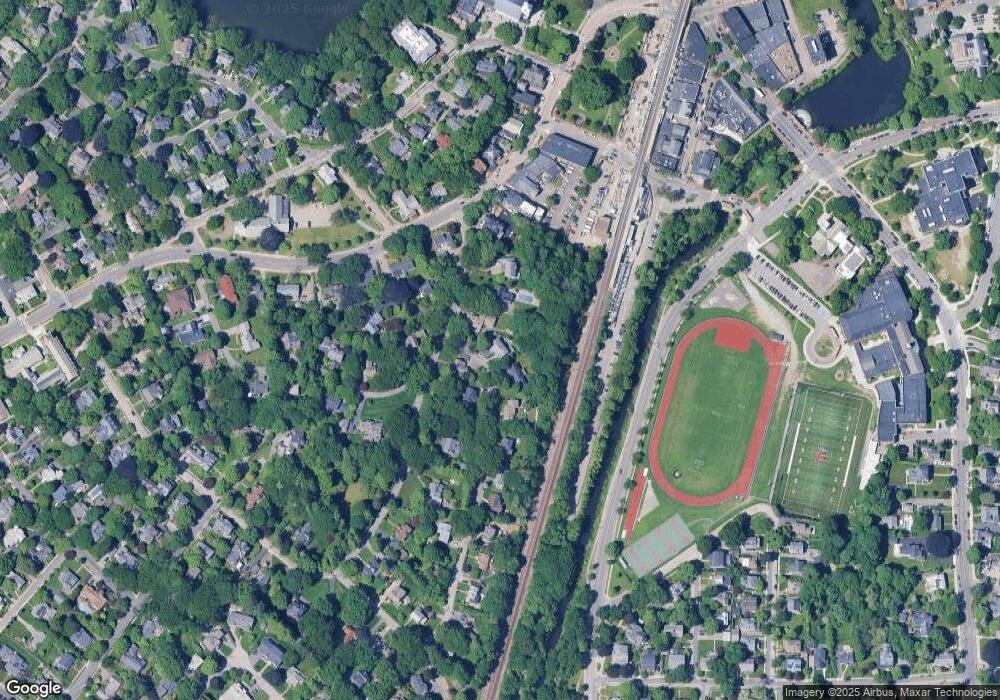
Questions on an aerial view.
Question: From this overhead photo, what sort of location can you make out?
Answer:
residential area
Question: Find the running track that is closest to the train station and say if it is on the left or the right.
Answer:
right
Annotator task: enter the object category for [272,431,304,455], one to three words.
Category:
house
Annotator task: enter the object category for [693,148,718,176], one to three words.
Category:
building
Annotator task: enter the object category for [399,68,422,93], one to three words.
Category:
house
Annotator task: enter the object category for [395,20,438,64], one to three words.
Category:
building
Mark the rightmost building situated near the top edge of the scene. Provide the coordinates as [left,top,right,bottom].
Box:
[951,30,989,75]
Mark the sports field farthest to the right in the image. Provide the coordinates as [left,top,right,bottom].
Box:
[771,380,871,519]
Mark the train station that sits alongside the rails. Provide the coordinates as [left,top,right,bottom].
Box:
[604,168,653,292]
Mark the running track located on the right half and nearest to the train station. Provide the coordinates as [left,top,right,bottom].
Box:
[646,317,787,507]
